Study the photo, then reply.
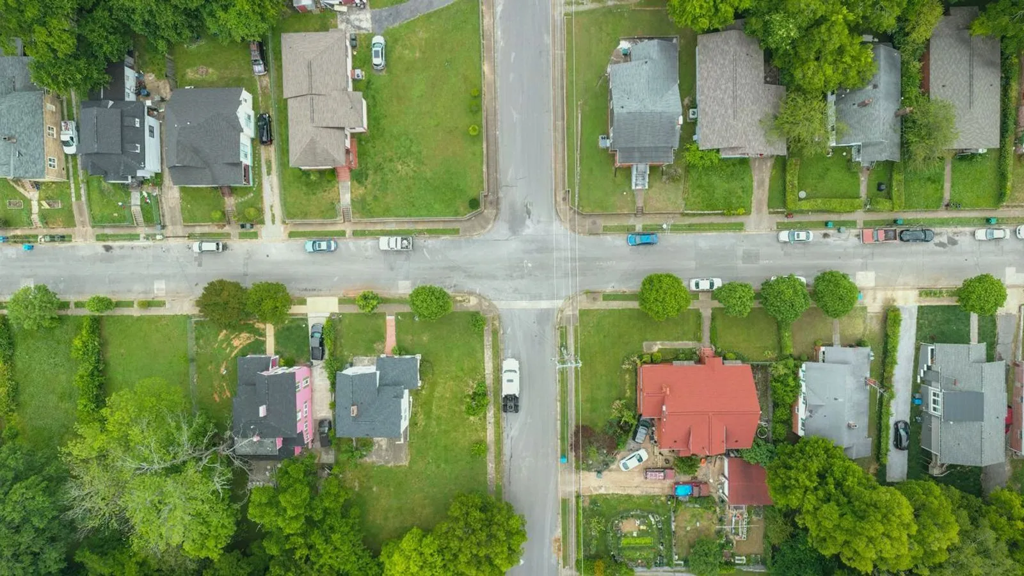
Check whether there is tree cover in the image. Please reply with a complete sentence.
Yes, the picture does contain tree cover.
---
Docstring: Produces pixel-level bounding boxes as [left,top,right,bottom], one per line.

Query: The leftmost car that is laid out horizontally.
[194,239,227,254]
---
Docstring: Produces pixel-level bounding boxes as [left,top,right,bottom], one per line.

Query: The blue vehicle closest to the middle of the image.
[626,232,658,247]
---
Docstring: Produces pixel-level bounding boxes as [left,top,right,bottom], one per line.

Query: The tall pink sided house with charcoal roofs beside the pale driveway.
[233,355,311,456]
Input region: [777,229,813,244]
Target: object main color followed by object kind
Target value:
white car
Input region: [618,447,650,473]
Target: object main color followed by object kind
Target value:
white car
